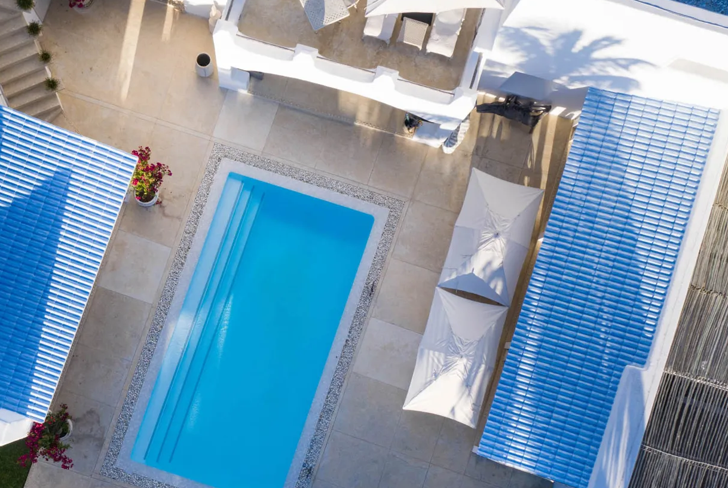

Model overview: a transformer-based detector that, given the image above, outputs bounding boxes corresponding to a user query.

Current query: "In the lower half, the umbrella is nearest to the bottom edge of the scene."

[403,288,508,429]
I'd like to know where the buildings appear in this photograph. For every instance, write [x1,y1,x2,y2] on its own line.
[214,0,524,147]
[0,102,137,447]
[475,89,728,488]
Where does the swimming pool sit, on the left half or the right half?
left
